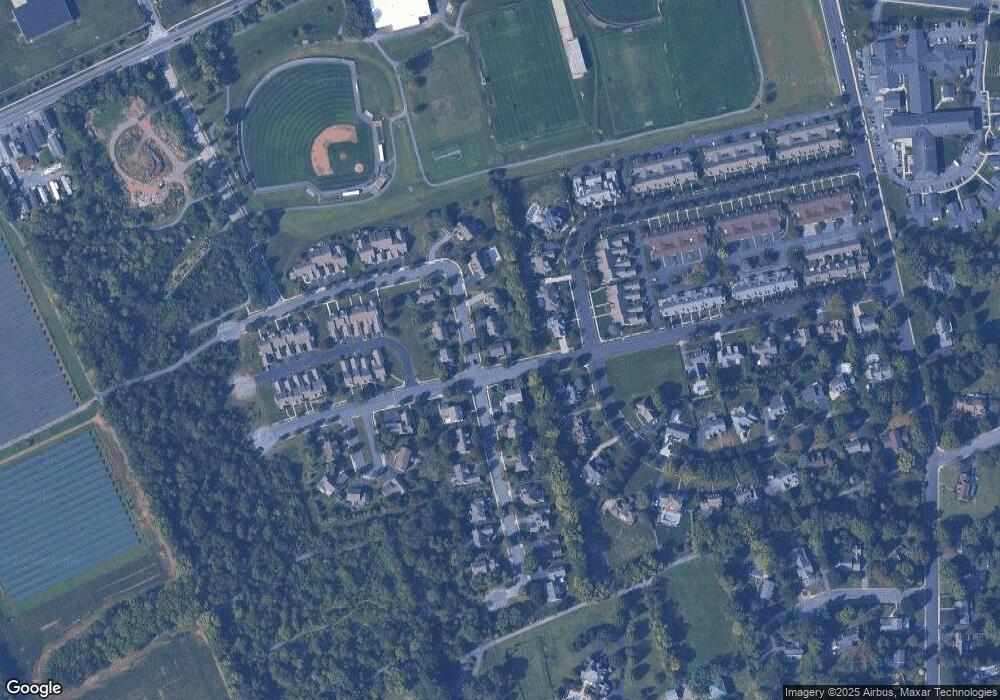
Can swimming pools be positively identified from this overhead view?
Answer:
Yes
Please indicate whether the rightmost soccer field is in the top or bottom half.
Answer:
top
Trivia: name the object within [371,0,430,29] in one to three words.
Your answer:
building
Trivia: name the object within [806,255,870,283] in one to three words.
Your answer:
house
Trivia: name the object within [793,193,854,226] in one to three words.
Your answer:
house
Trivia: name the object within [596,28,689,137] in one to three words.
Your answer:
soccer field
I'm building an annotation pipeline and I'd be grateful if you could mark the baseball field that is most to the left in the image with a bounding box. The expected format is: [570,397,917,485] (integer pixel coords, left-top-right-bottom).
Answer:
[241,57,381,194]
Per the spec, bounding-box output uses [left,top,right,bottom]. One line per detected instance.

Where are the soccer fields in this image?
[662,0,758,117]
[468,0,590,154]
[596,28,689,137]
